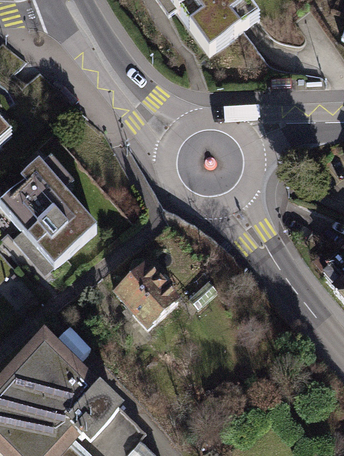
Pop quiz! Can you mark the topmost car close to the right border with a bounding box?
[330,156,344,179]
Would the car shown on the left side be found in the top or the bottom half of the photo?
top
